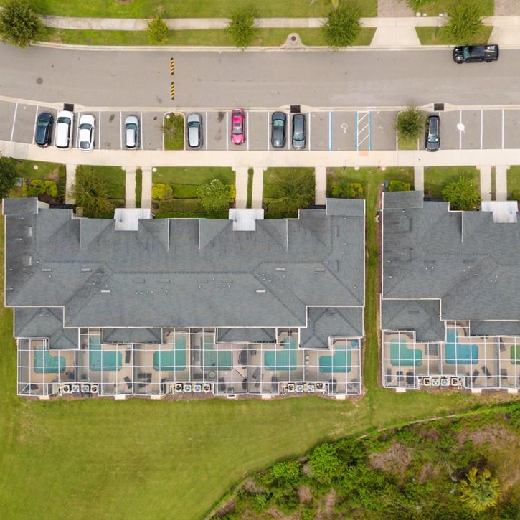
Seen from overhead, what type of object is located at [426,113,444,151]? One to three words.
car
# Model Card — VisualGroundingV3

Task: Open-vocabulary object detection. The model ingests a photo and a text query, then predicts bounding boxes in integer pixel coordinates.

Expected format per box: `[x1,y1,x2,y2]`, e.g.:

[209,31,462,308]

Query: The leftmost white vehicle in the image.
[53,109,73,149]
